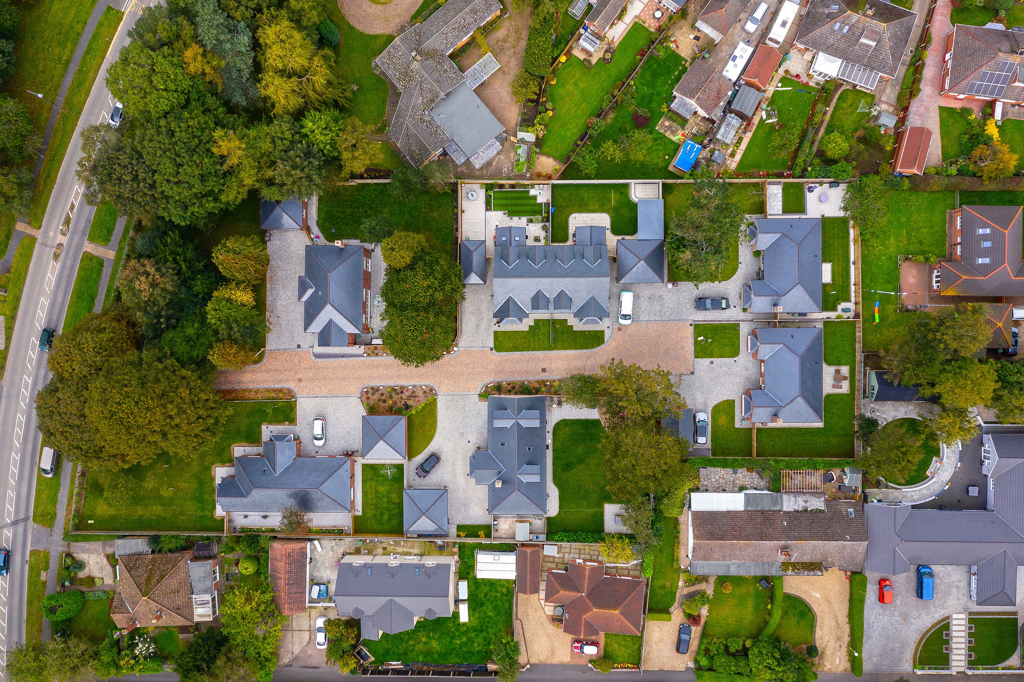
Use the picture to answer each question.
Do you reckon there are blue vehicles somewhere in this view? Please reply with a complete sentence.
Yes, the frame does contain a blue vehicle.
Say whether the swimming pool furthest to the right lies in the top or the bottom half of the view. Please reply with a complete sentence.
The swimming pool furthest to the right sits in the top half of the picture.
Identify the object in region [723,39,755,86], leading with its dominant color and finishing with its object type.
white camper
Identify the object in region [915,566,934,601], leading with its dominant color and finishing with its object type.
blue vehicle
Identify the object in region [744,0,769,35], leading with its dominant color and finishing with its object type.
white car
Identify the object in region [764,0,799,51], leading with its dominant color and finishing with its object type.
white camper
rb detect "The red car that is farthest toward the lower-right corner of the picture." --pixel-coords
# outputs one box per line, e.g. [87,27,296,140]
[878,577,894,604]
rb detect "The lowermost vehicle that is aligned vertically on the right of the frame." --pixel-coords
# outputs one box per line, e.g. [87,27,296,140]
[676,623,693,655]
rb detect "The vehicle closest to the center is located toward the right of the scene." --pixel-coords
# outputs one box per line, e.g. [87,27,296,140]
[617,291,634,325]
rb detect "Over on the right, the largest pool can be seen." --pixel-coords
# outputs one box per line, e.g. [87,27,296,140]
[673,139,702,172]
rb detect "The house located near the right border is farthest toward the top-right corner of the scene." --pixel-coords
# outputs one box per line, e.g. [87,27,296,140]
[940,22,1024,105]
